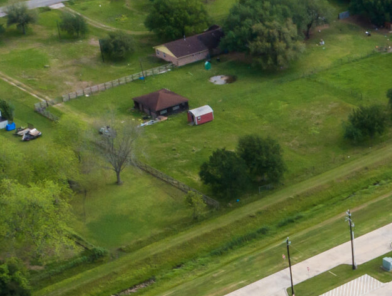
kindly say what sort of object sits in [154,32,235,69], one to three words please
house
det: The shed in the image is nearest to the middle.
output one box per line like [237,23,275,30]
[183,103,214,126]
